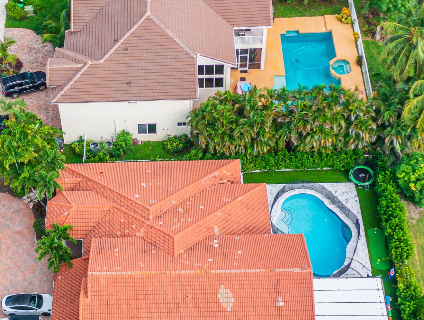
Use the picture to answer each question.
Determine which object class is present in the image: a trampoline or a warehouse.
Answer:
trampoline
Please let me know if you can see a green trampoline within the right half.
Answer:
Yes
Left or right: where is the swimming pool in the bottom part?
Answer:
right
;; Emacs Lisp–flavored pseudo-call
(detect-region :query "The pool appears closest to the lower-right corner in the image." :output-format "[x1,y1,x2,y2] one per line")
[271,189,357,277]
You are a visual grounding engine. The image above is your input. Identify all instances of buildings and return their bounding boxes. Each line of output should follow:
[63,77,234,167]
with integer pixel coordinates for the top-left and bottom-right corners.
[45,159,317,320]
[46,0,275,141]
